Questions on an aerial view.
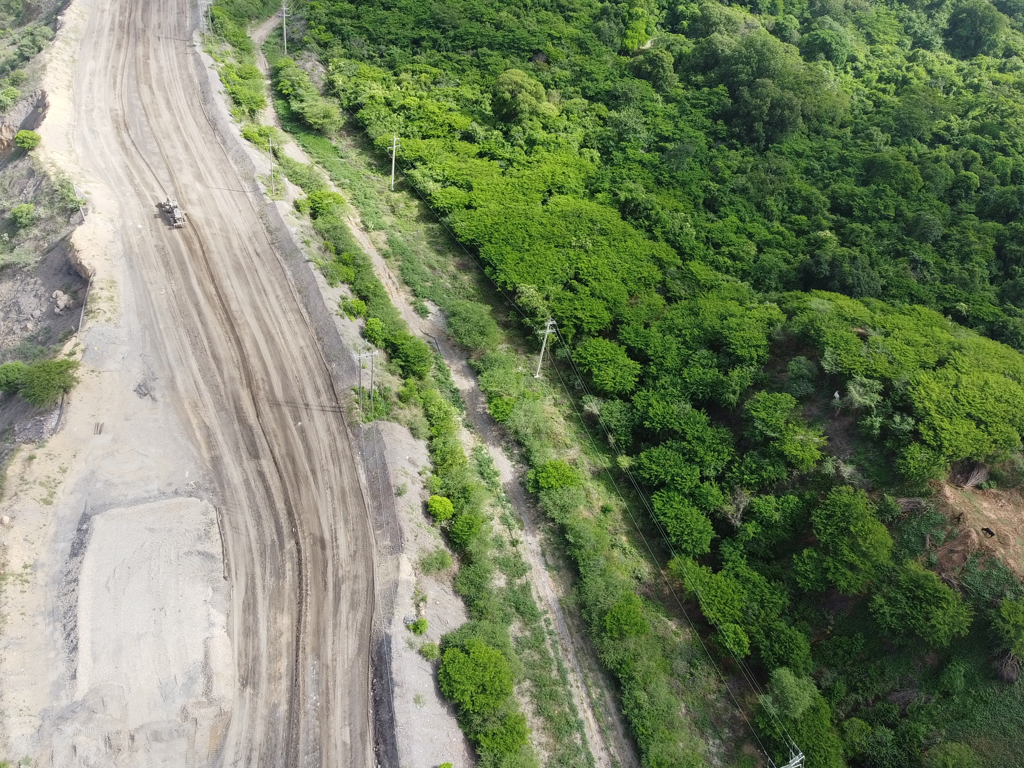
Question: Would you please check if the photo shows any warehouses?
No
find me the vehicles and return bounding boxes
[158,192,189,228]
